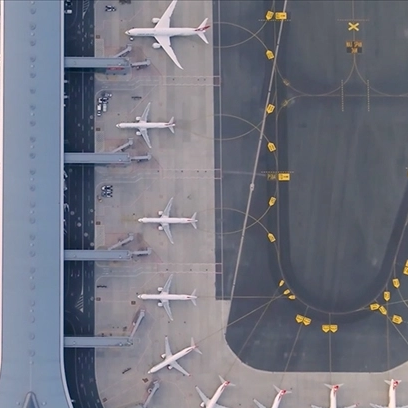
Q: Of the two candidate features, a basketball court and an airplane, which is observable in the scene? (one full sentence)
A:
Visible in the photo is an airplane.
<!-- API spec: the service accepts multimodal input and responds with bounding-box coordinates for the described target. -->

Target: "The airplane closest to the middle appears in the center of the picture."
[137,198,198,244]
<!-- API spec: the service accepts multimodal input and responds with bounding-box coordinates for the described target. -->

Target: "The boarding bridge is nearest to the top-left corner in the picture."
[64,44,152,75]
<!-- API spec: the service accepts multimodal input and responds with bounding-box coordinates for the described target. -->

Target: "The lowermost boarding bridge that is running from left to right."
[64,312,145,347]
